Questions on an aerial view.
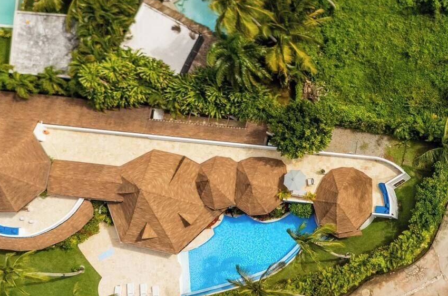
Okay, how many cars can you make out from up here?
0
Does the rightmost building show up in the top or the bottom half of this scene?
bottom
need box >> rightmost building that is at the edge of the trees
[313,166,376,238]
